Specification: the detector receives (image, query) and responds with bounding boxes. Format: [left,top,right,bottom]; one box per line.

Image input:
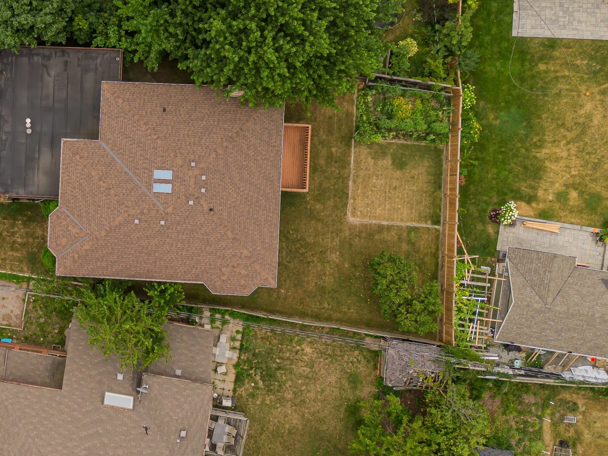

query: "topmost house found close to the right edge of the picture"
[479,246,608,359]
